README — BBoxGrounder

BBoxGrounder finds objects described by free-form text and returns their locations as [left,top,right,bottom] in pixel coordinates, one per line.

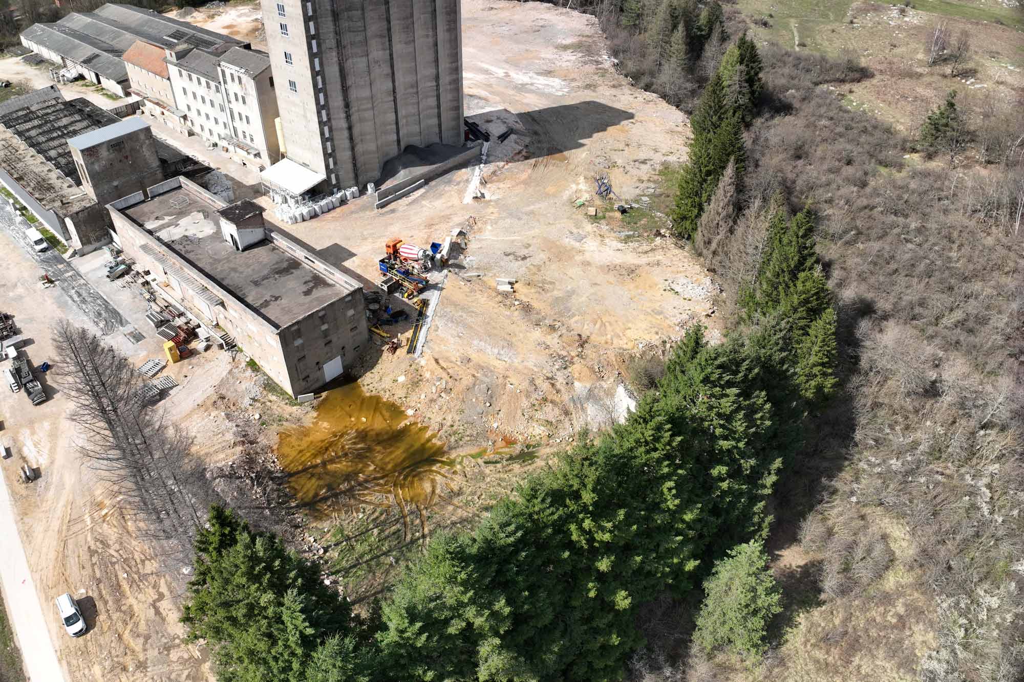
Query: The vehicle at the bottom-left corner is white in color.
[55,591,95,645]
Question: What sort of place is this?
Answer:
industrial area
